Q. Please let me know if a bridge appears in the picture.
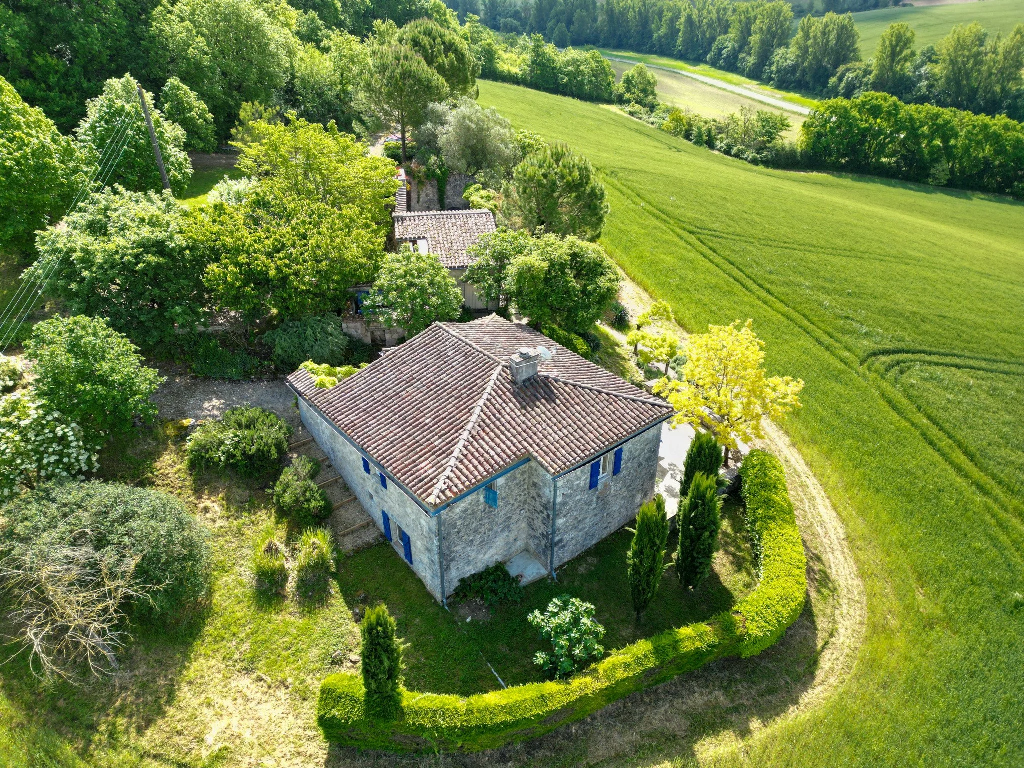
No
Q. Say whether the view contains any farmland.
Yes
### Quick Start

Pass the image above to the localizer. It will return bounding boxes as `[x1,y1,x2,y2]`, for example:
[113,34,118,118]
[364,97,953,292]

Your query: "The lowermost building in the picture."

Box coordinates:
[284,312,682,611]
